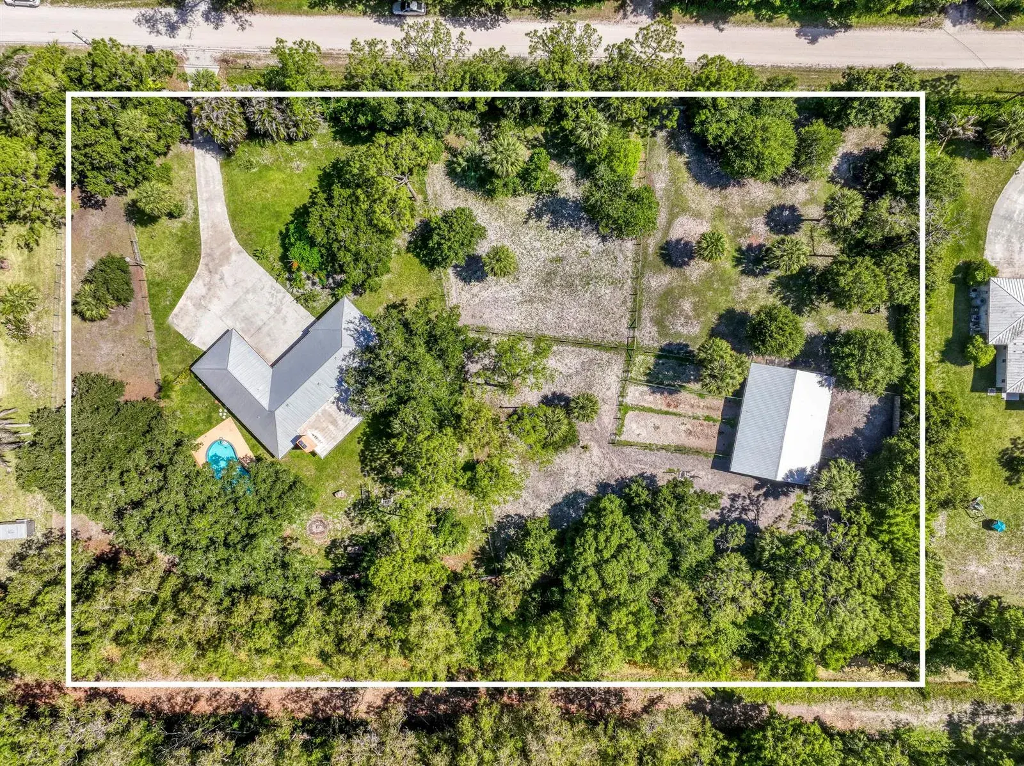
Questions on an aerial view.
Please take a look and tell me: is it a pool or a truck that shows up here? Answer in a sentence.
The one in the frame is a pool.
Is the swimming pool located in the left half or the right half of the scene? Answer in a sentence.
You can find the swimming pool on the left side of the picture.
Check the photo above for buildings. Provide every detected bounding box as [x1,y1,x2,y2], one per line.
[969,277,1024,399]
[190,296,388,459]
[0,517,40,538]
[726,363,836,486]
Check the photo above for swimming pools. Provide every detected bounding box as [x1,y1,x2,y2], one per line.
[190,417,277,524]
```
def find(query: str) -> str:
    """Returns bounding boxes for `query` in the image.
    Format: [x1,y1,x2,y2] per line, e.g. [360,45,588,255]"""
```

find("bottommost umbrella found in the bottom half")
[990,521,1008,534]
